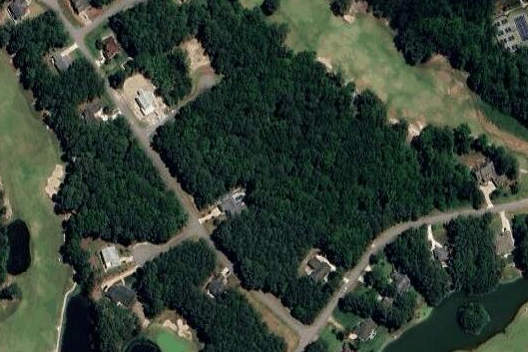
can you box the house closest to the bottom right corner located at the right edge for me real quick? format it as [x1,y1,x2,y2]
[496,235,515,253]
